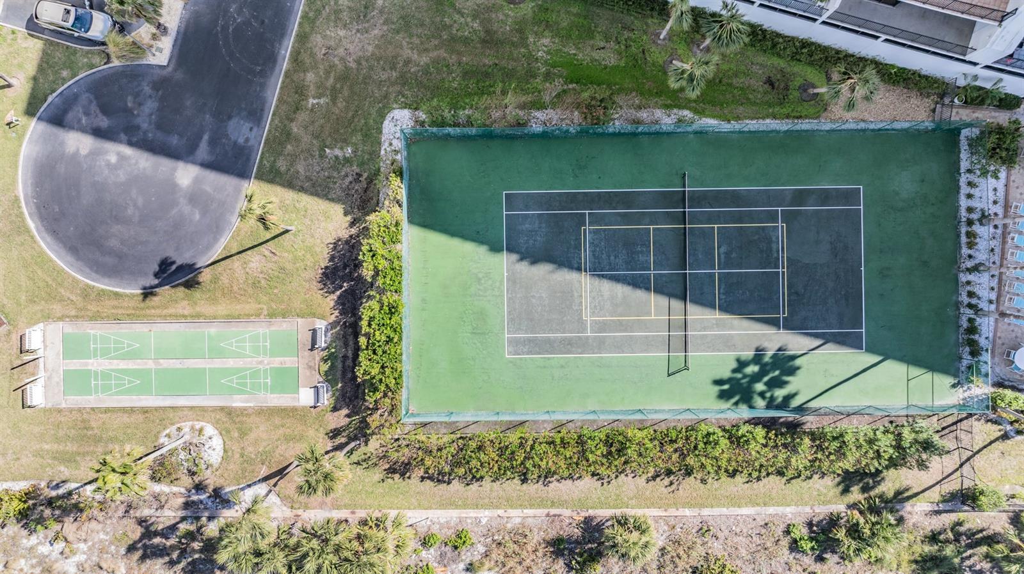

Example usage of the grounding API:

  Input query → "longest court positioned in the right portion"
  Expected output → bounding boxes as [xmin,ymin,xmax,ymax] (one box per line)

[407,130,962,413]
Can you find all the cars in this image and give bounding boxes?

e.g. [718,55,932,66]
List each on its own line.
[38,3,115,49]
